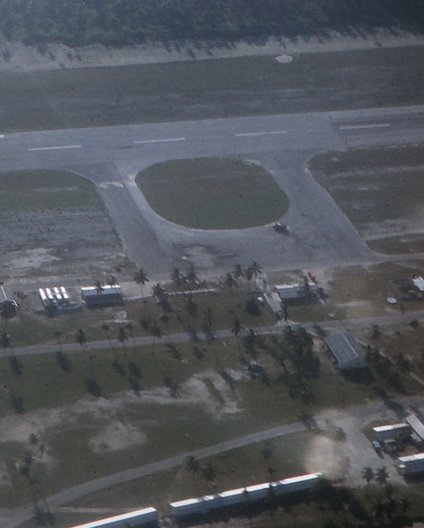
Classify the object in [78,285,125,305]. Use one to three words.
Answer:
building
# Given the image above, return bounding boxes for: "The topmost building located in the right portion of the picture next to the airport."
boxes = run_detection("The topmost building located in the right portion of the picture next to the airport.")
[271,282,322,306]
